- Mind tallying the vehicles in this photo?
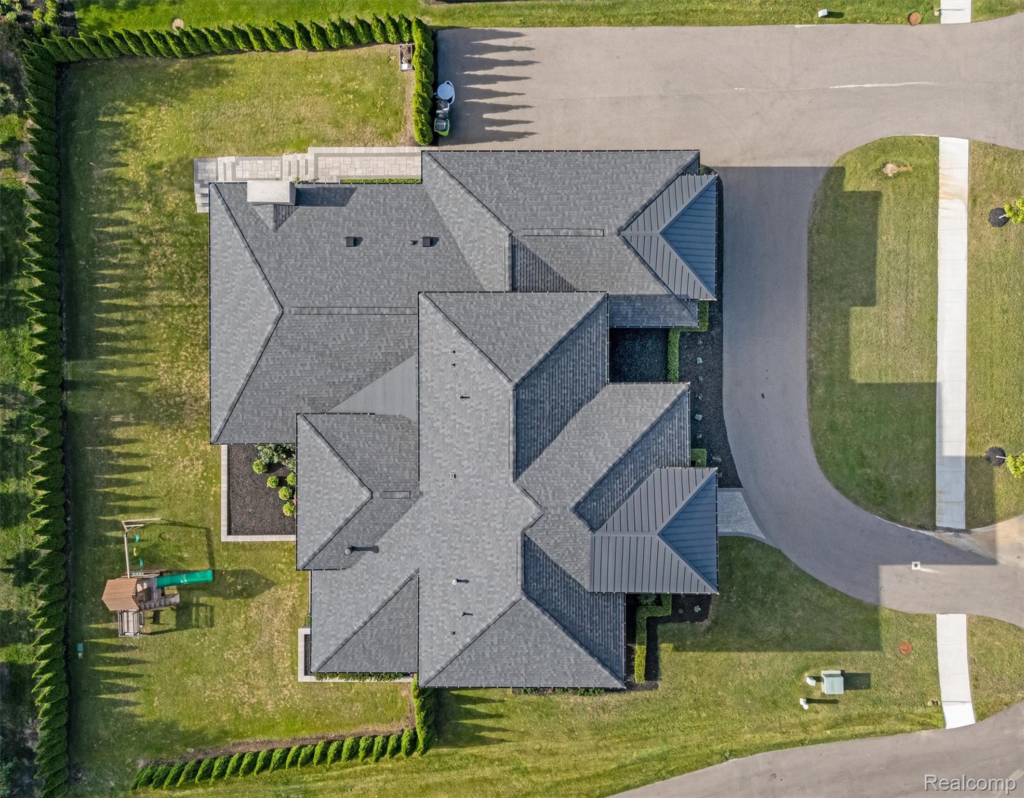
0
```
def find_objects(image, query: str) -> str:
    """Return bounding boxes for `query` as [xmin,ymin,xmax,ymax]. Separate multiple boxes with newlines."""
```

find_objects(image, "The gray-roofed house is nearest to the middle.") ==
[209,151,718,688]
